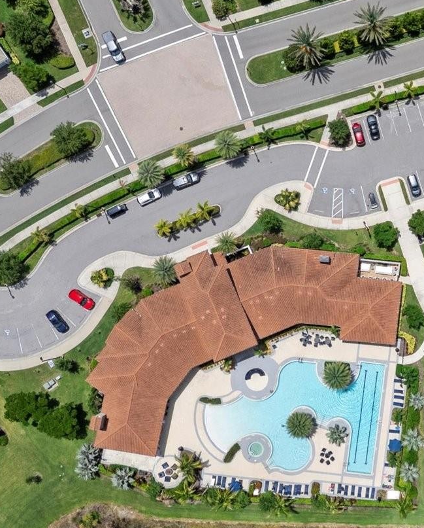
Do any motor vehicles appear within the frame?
Yes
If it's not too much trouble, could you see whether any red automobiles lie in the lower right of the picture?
No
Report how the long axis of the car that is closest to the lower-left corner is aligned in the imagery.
at an angle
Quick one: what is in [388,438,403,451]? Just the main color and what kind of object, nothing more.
blue umbrella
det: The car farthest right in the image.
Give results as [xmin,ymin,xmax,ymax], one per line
[407,173,422,199]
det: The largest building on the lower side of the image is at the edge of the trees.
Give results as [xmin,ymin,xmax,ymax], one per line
[85,246,403,457]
